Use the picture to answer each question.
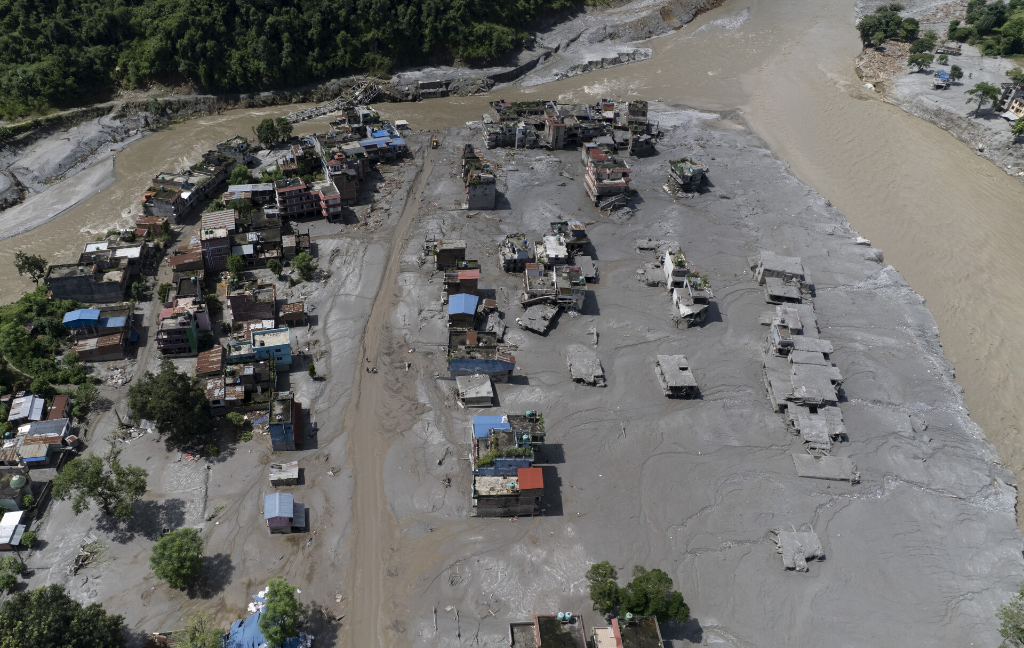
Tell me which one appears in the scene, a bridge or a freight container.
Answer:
bridge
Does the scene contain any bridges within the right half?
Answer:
No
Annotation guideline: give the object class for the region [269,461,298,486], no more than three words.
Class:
house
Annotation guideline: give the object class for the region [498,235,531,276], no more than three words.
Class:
house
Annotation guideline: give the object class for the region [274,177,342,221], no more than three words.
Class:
building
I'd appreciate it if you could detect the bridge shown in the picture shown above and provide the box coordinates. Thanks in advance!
[286,77,388,123]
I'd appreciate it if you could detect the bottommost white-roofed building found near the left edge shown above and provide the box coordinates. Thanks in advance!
[0,511,29,558]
